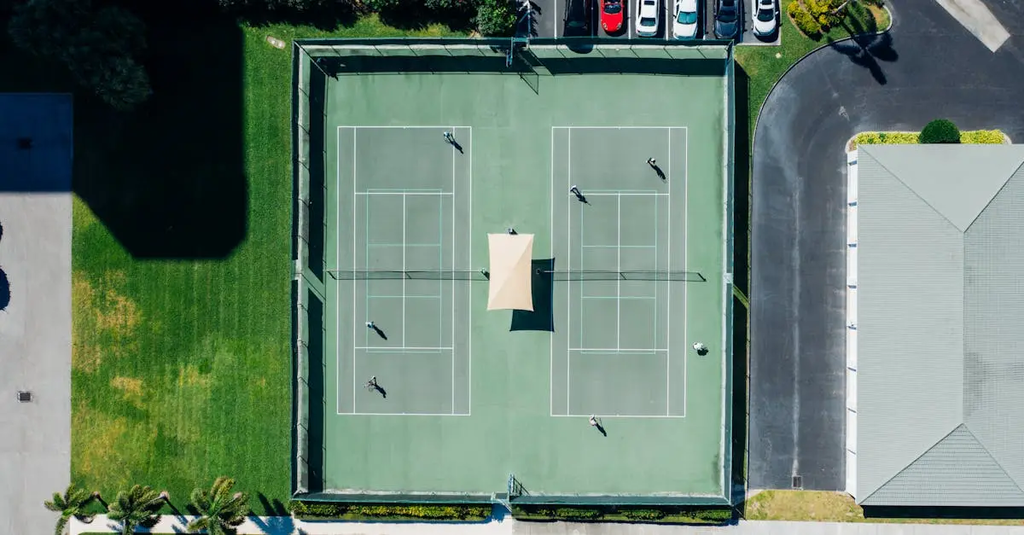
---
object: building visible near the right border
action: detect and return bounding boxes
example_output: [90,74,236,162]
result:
[846,144,1024,505]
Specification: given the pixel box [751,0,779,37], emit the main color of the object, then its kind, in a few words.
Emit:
white car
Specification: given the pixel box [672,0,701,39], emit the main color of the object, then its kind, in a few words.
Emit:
white car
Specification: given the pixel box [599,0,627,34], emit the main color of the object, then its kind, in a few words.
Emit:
red car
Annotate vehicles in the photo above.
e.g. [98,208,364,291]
[562,0,591,41]
[635,0,659,38]
[714,0,742,39]
[751,0,779,37]
[672,0,701,39]
[599,0,627,34]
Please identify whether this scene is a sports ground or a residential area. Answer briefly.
sports ground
